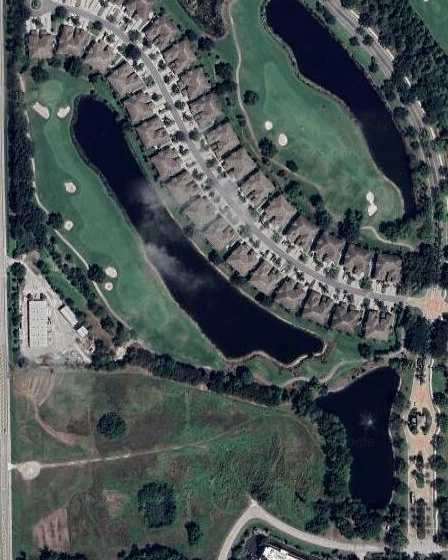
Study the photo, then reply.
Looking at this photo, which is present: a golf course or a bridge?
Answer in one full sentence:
There is a golf course in the scene.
